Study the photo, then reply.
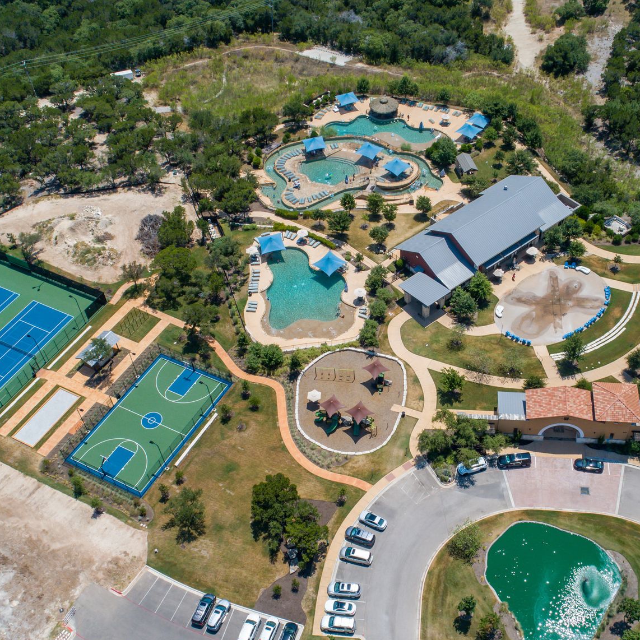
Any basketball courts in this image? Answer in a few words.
Yes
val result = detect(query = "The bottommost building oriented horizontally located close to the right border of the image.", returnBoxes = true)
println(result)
[490,379,640,445]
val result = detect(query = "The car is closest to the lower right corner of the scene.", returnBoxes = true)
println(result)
[575,458,603,474]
